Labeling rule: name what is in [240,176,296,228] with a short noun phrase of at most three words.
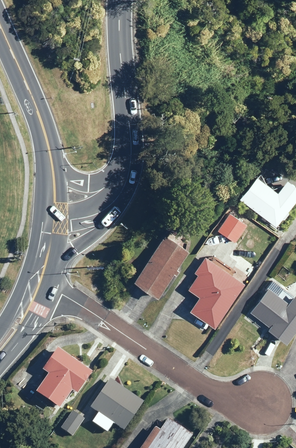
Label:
house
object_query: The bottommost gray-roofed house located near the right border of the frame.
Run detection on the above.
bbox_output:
[250,281,296,346]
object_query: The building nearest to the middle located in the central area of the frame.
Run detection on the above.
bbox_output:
[134,238,188,299]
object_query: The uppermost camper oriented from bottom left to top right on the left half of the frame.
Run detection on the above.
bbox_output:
[98,205,122,228]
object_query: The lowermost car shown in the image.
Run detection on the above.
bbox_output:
[196,394,212,406]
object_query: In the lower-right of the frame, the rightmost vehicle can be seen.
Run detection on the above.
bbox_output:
[263,341,276,357]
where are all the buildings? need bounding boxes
[240,176,296,228]
[90,378,144,432]
[188,258,245,330]
[218,214,246,243]
[134,238,188,299]
[141,418,192,448]
[250,281,296,346]
[36,346,92,406]
[60,410,84,436]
